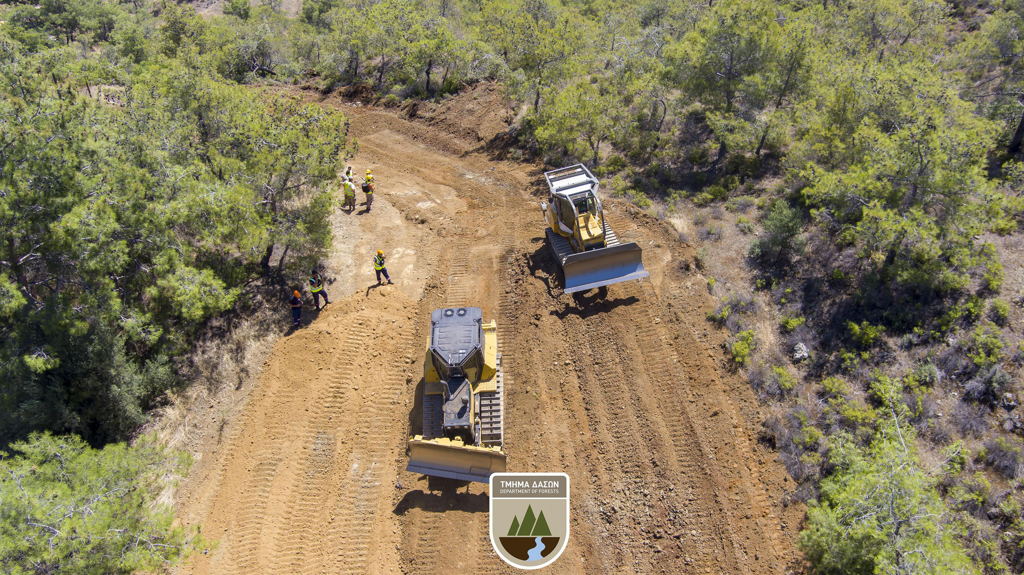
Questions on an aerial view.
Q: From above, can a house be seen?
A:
No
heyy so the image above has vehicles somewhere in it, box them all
[532,161,649,297]
[406,305,509,486]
